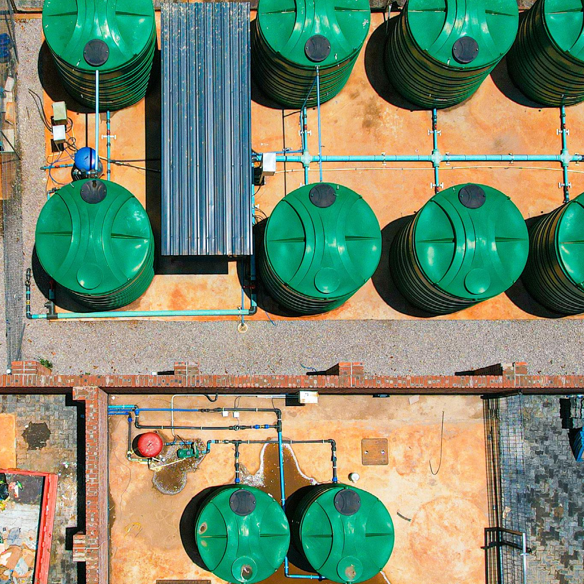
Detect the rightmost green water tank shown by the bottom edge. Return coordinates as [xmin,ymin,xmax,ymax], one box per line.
[291,482,394,584]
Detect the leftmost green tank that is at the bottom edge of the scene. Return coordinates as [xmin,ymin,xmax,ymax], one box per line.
[195,482,289,584]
